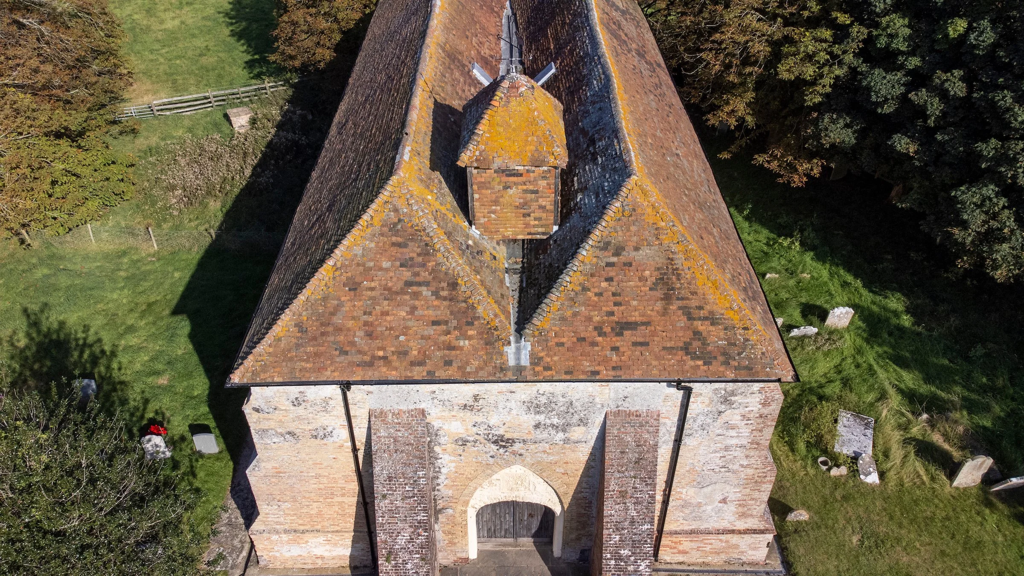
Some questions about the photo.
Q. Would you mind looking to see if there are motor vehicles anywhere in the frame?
No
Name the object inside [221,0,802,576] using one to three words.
church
